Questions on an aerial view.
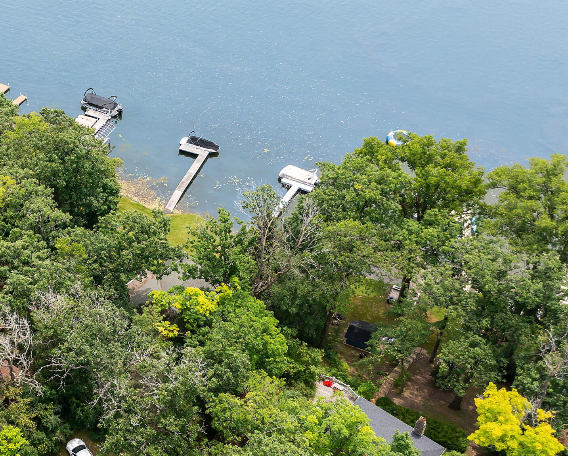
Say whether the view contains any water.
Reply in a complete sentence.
Yes, some water is visible.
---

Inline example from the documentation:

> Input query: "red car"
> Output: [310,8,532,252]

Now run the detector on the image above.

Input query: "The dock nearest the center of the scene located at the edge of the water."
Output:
[264,179,314,220]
